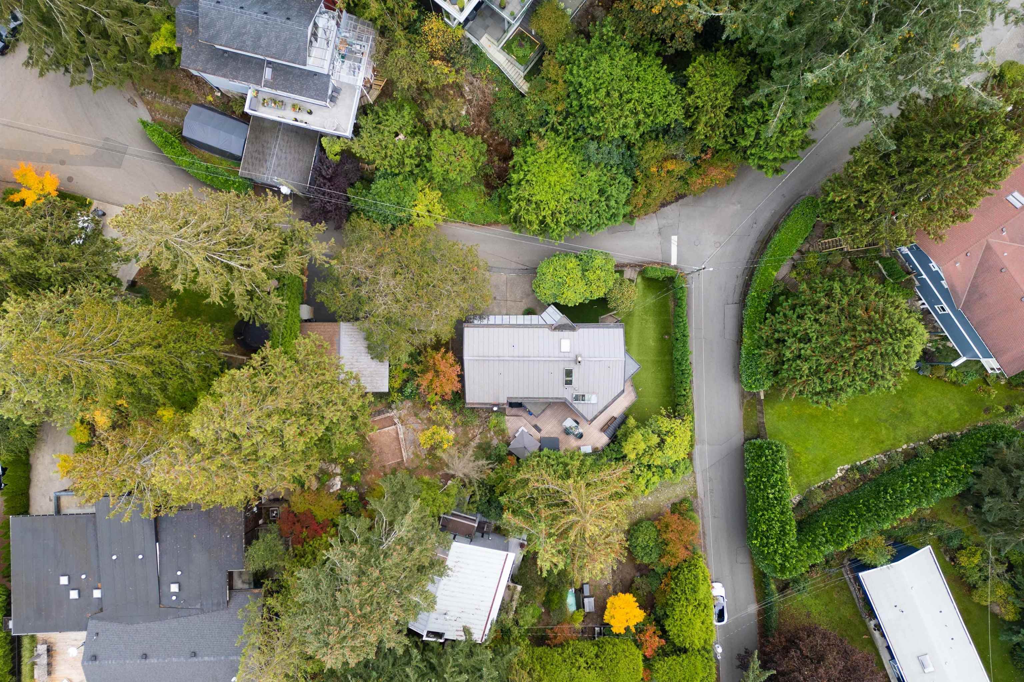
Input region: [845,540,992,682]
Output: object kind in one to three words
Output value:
house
